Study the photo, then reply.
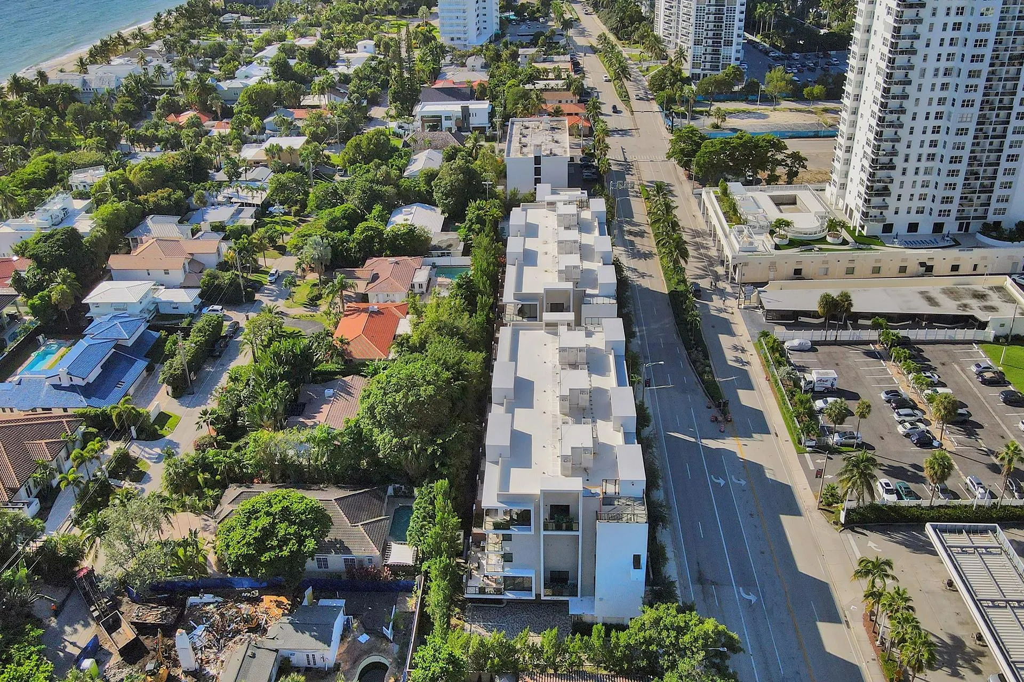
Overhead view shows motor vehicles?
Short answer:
Yes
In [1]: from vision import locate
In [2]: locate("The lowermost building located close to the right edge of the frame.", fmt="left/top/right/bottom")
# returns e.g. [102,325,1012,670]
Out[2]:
[756,276,1024,334]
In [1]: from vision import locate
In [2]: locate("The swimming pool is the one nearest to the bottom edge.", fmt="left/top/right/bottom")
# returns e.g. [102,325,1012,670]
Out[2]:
[352,653,396,682]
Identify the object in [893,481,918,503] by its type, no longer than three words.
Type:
car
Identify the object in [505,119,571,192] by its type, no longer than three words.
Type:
building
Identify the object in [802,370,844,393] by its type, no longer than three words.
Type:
truck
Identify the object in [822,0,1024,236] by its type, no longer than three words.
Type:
building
